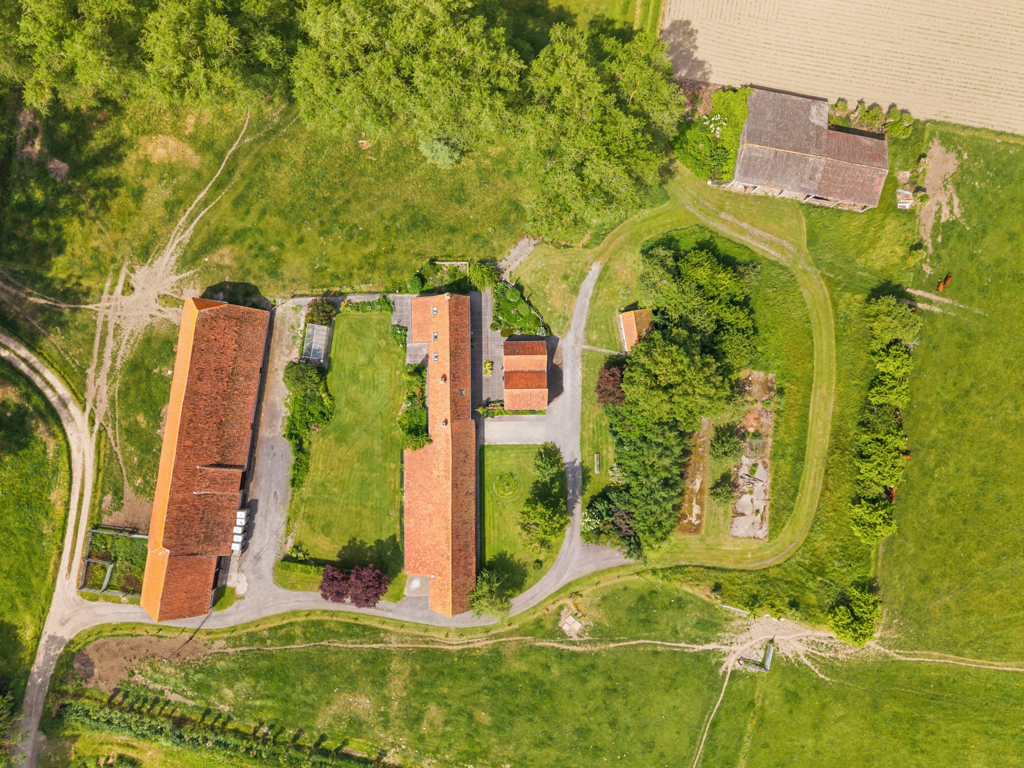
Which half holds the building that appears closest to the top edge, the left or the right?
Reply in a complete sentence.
The building that appears closest to the top edge sits on the right side.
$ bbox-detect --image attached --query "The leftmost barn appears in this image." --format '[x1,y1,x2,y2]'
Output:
[140,297,270,622]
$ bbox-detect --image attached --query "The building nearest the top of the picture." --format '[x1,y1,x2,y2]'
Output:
[727,86,889,214]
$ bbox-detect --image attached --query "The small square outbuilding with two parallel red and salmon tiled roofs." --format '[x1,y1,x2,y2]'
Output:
[502,340,548,410]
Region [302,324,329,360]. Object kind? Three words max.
greenhouse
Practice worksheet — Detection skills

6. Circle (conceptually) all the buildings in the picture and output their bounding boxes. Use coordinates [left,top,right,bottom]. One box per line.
[619,308,657,351]
[302,324,329,360]
[502,340,548,410]
[140,297,270,622]
[727,86,889,214]
[403,293,477,617]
